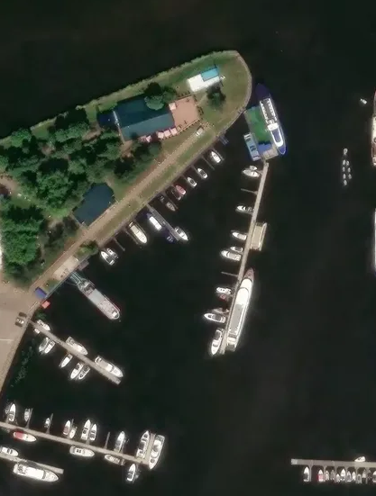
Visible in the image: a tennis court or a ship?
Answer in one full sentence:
I can see a ship in this picture.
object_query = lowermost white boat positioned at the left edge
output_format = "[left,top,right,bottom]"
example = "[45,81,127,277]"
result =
[13,462,59,479]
